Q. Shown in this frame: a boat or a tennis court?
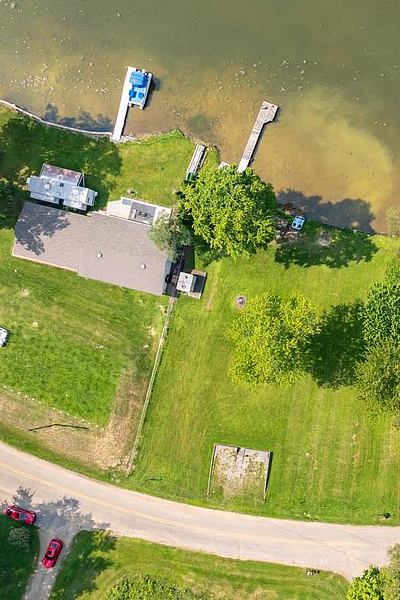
boat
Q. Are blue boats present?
Yes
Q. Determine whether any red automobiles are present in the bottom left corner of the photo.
Yes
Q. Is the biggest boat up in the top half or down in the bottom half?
top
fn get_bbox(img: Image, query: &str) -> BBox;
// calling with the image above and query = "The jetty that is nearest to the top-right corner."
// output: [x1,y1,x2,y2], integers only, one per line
[242,100,279,158]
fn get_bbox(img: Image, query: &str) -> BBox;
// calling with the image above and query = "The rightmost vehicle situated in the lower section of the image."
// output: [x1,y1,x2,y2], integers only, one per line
[40,538,63,570]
